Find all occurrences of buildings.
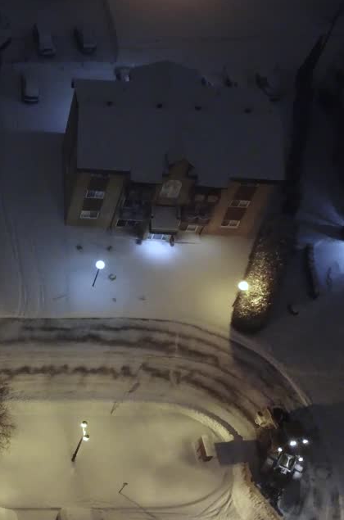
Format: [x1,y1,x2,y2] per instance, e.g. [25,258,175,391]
[64,59,285,250]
